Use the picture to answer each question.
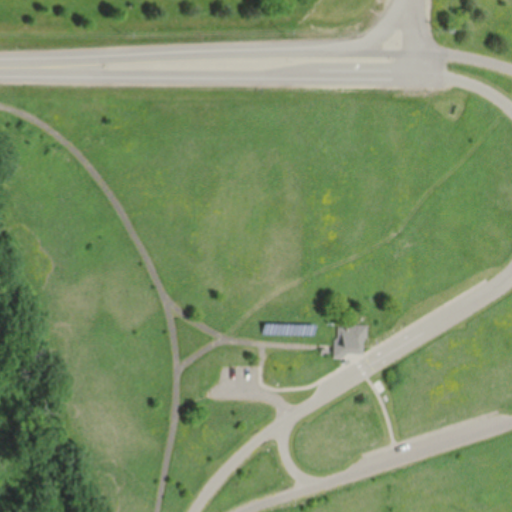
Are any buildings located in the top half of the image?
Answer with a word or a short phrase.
No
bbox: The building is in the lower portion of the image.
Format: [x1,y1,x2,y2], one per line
[333,326,369,360]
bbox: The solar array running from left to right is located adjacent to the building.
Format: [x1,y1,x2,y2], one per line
[262,324,318,338]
